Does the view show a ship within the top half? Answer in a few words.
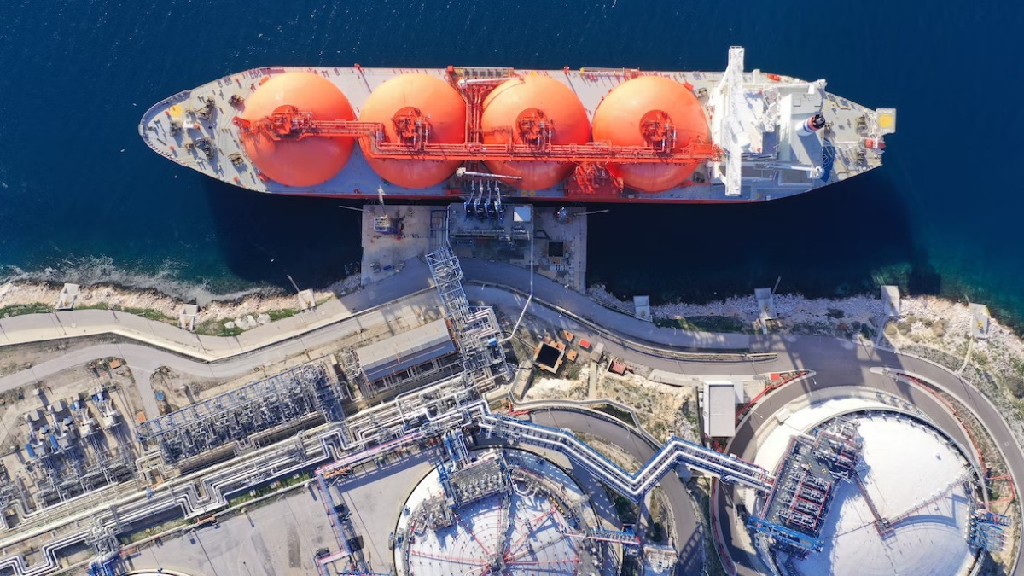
Yes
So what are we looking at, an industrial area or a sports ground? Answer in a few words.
industrial area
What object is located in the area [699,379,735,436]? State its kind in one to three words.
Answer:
building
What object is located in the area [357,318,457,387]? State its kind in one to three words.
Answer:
shed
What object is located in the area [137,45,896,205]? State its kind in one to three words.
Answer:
ship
